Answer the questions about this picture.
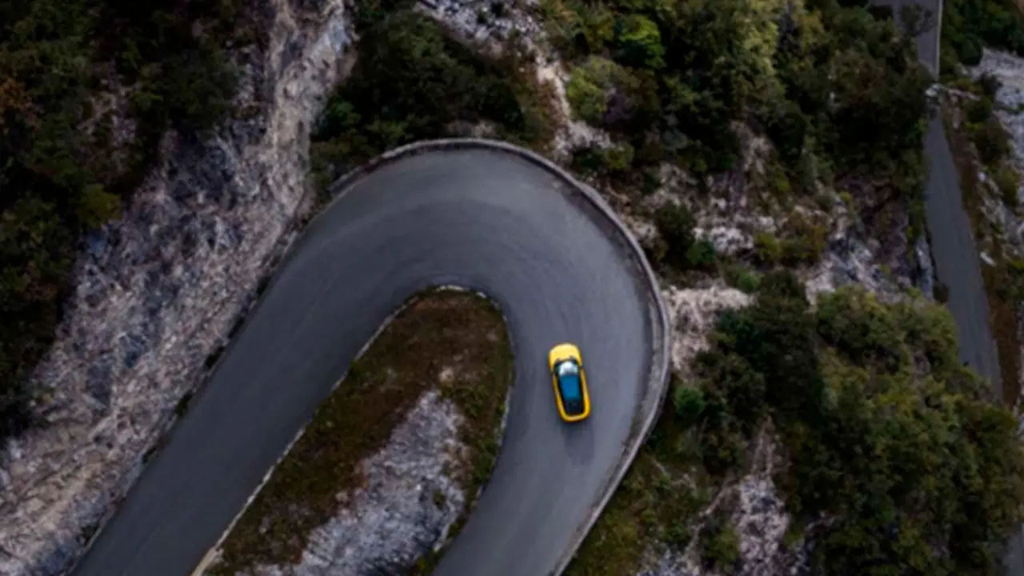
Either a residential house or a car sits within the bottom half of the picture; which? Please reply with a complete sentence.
You can see a car within the bottom half of the picture.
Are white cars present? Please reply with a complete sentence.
No, this view has no white car in it.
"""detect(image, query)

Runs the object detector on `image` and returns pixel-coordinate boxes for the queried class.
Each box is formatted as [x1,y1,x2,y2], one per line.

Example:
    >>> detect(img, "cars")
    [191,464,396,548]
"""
[548,341,590,423]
